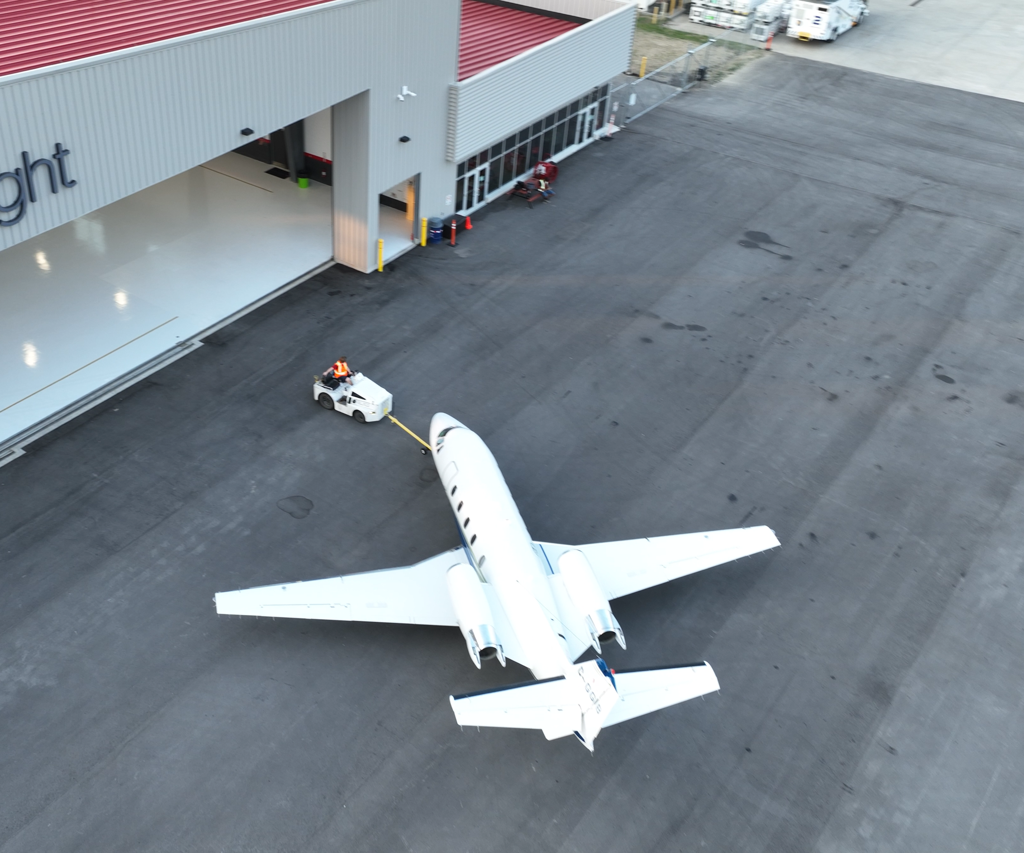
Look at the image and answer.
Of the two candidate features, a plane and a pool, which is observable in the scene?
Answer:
plane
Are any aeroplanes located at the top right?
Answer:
No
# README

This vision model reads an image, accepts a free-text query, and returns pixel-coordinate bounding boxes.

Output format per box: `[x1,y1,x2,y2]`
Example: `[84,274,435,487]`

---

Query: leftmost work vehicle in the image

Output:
[314,369,397,424]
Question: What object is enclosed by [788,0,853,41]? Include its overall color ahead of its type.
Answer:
white truck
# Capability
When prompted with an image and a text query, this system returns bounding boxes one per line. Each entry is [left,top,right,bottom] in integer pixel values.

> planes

[213,412,779,757]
